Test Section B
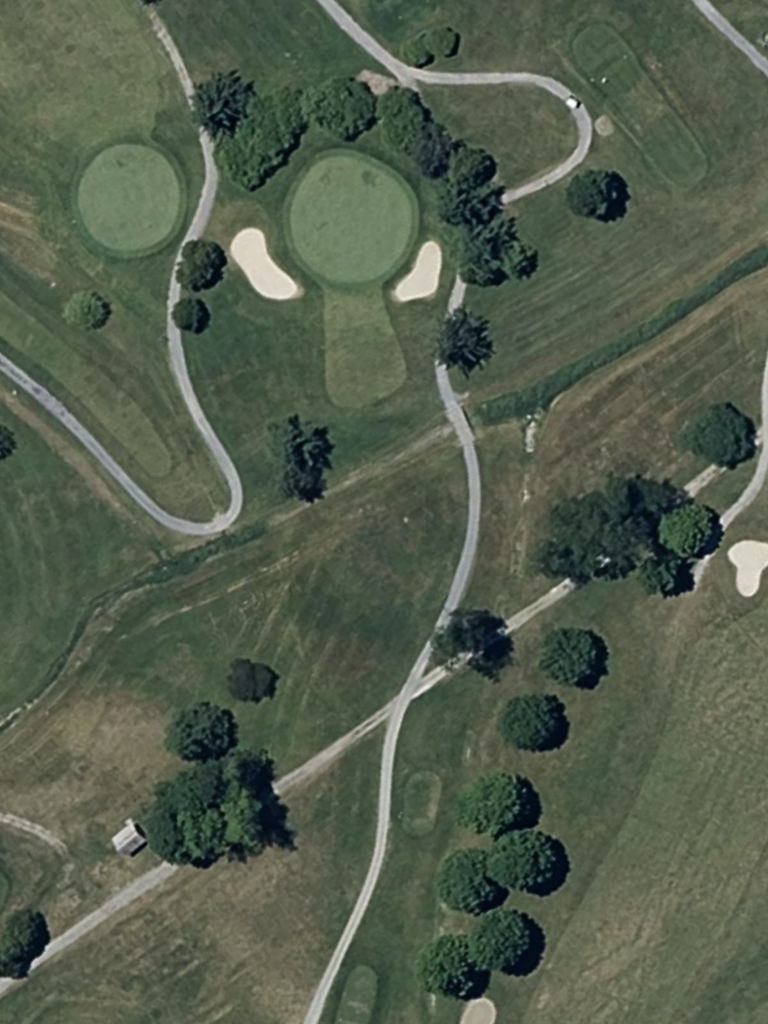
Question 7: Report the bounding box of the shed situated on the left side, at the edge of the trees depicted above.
[112,823,145,856]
